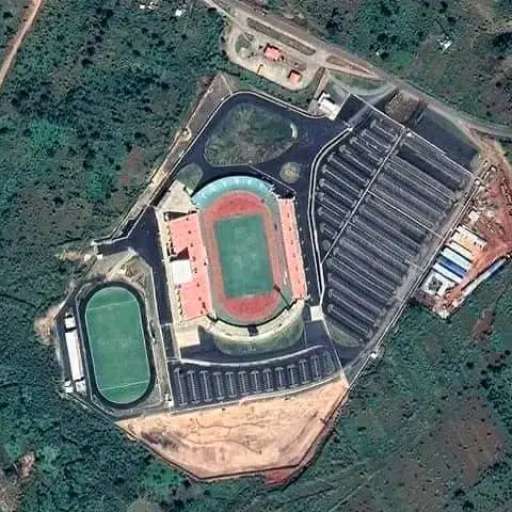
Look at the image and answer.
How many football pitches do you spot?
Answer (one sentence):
There are 2 football pitches in the image.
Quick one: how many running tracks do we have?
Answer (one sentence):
The picture shows 2 running tracks.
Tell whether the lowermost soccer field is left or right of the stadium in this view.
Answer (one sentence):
The lowermost soccer field can be seen on the left of the stadium.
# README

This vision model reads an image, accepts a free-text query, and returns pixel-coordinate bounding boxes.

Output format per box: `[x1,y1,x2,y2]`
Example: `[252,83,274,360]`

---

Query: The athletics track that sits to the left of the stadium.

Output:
[81,280,156,410]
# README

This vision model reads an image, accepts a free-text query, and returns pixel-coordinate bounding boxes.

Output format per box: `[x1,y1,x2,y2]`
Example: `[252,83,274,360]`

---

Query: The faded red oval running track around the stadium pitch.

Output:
[205,191,284,322]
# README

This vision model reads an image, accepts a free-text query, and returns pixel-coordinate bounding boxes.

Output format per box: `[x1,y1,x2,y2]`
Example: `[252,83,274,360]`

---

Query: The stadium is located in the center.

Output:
[157,176,312,354]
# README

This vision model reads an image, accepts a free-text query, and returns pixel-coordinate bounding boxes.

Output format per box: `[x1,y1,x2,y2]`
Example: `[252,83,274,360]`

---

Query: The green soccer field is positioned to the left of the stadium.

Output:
[87,287,150,403]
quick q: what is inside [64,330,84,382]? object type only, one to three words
building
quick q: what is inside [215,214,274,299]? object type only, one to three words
soccer field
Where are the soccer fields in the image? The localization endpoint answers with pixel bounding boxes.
[87,287,150,403]
[215,214,274,299]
